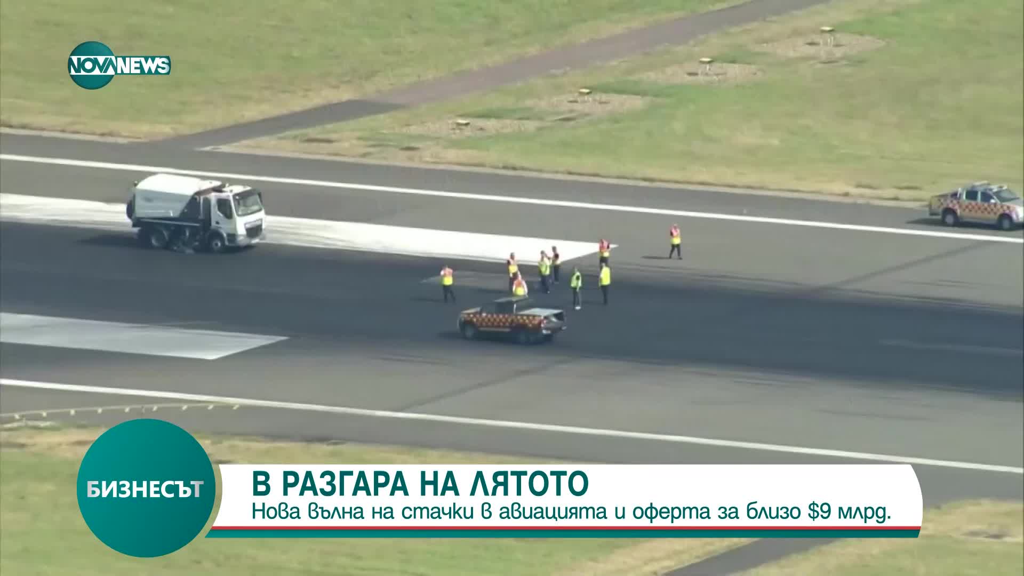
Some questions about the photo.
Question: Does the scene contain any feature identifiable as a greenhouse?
No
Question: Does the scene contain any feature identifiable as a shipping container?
No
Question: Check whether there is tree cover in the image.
No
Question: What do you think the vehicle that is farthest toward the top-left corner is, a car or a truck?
truck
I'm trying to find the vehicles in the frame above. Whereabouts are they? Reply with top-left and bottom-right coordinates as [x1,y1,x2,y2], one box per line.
[926,175,1024,234]
[451,298,570,343]
[128,174,267,253]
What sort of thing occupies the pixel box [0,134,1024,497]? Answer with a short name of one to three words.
runway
